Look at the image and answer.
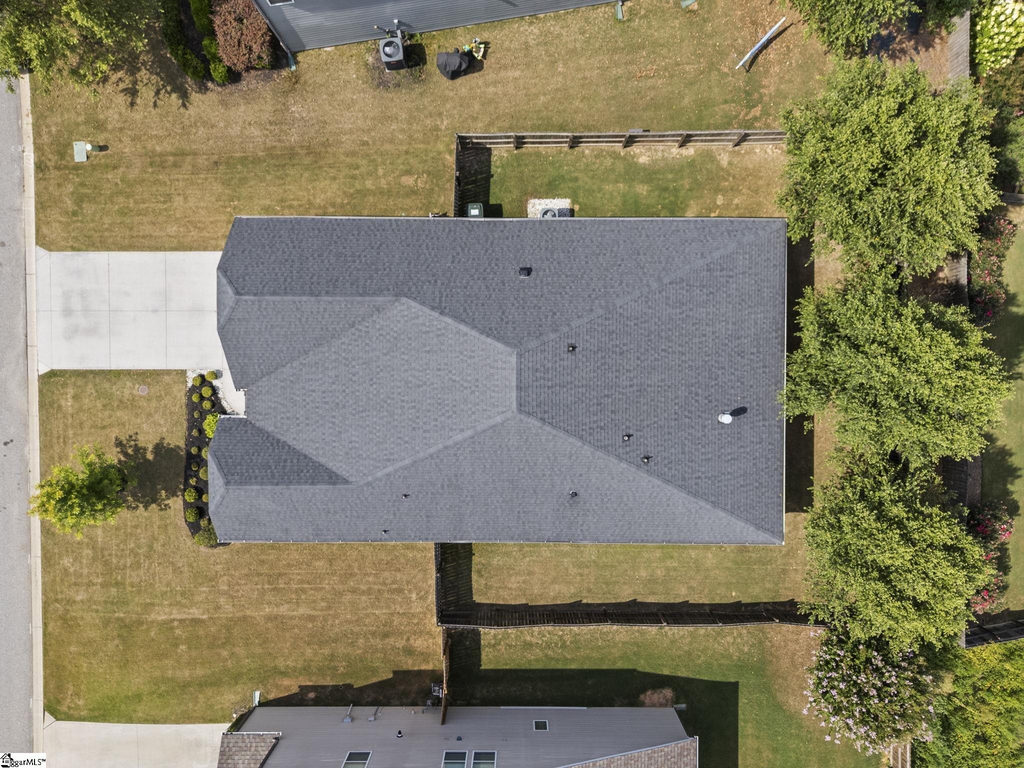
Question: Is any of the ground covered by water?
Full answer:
No, water can't be seen anywhere here.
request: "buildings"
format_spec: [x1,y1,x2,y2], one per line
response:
[258,0,627,53]
[211,705,699,768]
[207,217,786,544]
